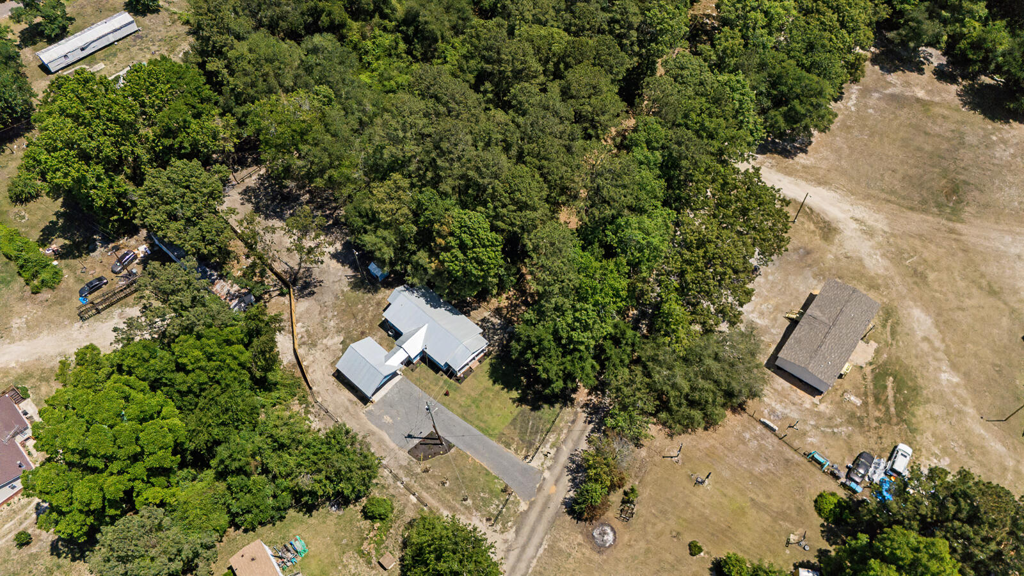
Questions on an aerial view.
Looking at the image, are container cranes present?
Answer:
No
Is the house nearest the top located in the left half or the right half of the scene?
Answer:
left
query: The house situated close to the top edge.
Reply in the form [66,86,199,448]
[36,12,144,73]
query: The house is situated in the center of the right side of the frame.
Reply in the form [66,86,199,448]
[775,278,881,397]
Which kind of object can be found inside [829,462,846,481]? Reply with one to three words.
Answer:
work vehicle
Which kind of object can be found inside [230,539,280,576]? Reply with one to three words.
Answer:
house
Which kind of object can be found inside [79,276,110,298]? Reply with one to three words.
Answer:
car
